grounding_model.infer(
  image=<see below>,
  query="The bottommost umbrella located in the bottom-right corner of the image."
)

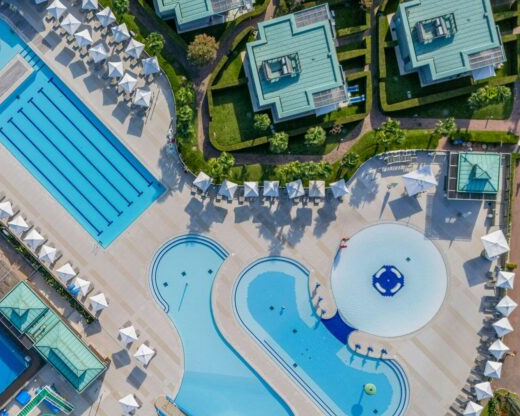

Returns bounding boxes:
[463,400,484,416]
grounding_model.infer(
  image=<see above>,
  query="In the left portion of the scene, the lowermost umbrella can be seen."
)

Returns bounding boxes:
[119,394,140,413]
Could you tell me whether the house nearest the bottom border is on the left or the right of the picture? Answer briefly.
left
